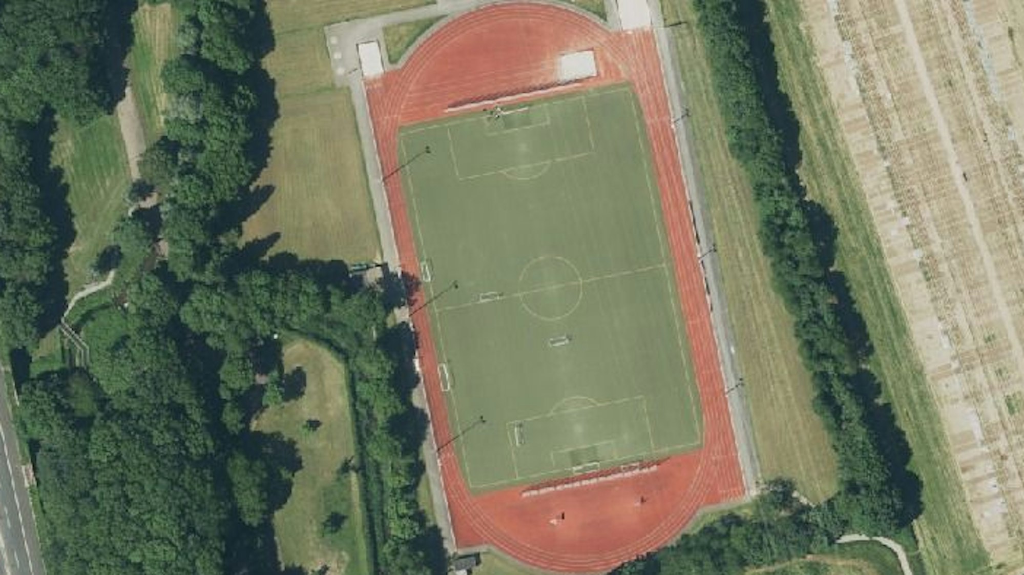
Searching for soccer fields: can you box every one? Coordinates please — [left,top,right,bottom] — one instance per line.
[396,79,705,496]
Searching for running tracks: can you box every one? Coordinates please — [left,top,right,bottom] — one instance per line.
[360,2,749,573]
